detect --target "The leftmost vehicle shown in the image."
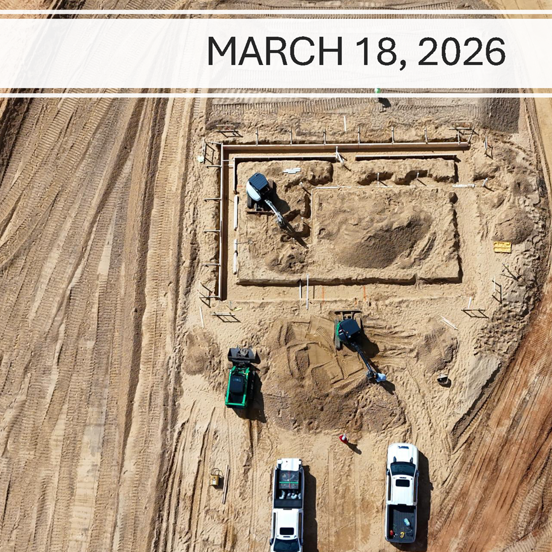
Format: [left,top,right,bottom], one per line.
[223,353,259,411]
